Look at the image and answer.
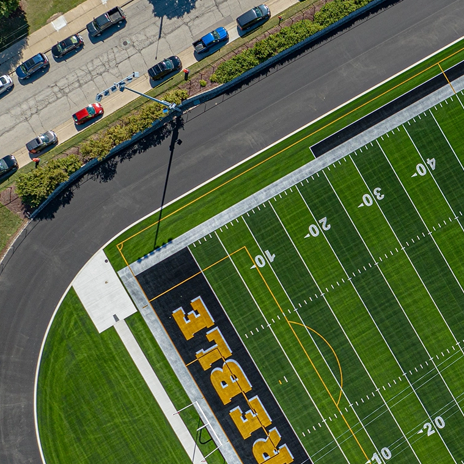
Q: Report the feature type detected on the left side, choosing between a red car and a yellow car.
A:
red car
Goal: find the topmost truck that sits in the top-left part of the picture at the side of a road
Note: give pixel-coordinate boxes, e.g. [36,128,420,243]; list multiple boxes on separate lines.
[87,5,129,37]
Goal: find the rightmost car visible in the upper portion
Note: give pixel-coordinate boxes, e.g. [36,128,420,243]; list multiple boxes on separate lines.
[235,3,272,31]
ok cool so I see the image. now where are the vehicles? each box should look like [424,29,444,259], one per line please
[235,3,272,31]
[191,25,229,55]
[87,5,129,37]
[148,55,182,80]
[24,129,61,156]
[52,32,86,58]
[71,101,105,126]
[16,53,50,79]
[0,74,17,95]
[0,156,18,178]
